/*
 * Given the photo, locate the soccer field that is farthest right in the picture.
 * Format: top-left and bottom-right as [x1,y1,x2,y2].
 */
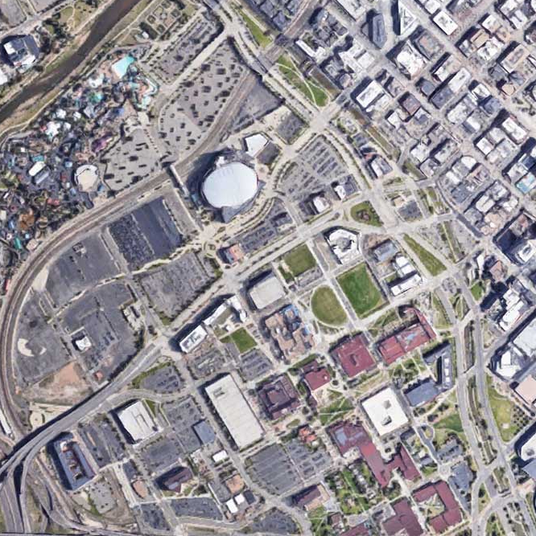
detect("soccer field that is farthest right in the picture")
[337,262,389,316]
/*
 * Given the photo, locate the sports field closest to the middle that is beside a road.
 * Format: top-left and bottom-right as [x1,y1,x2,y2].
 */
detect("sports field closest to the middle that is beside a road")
[283,243,318,278]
